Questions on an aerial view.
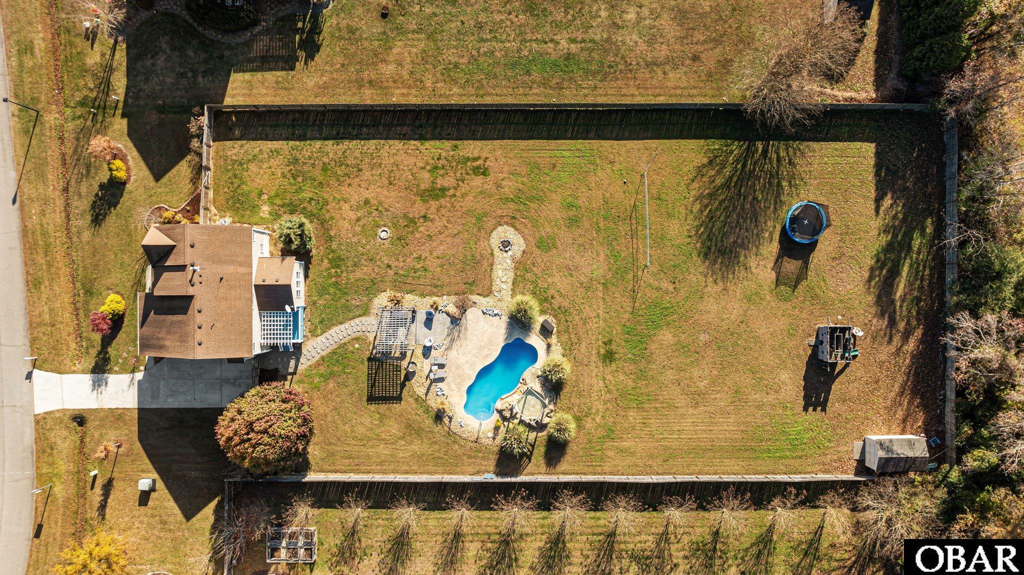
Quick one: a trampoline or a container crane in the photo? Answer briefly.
trampoline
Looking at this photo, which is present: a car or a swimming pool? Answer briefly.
swimming pool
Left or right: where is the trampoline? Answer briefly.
right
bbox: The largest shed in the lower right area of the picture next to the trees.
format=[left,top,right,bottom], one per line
[866,436,934,472]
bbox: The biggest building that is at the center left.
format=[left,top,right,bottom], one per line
[137,222,305,361]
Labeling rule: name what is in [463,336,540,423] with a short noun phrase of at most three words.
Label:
swimming pool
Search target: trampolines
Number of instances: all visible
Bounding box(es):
[781,199,833,243]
